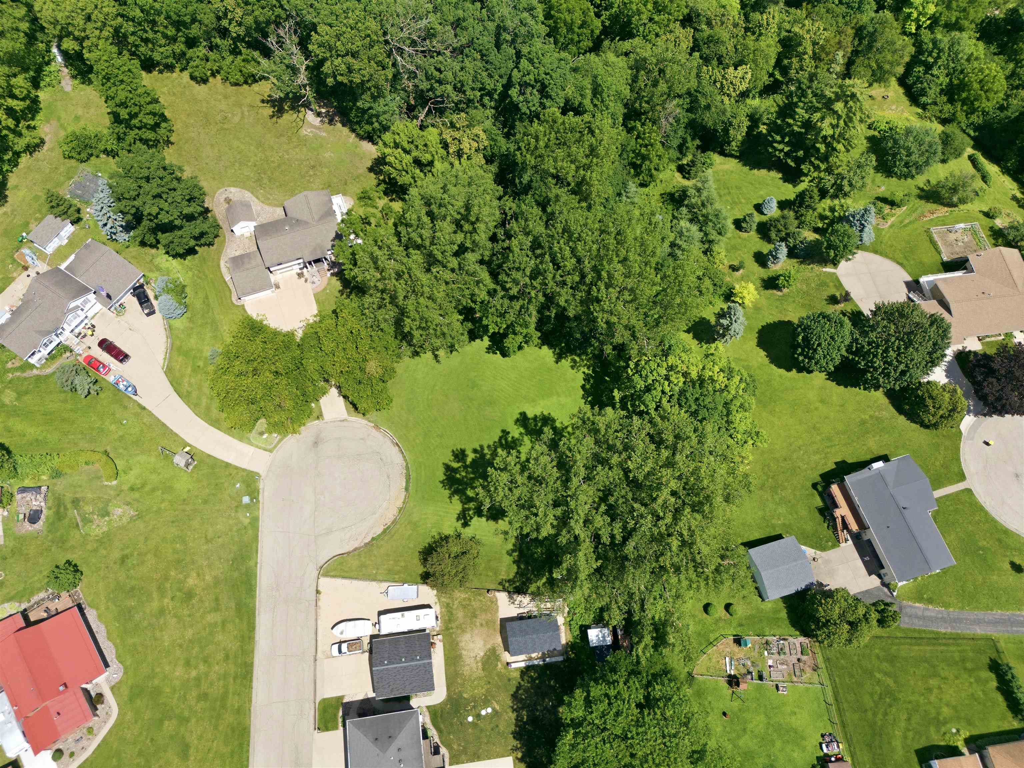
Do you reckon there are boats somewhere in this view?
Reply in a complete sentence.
Yes, a boat appears in the view.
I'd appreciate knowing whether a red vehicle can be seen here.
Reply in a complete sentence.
Yes, a red vehicle appears in the view.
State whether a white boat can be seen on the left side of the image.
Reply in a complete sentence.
Yes, the scene does show a white boat on the left side of the image.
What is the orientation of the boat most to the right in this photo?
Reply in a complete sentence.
What the image shows is the boat most to the right lying from side to side.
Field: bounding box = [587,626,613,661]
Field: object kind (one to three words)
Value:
shed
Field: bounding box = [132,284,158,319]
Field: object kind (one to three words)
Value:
truck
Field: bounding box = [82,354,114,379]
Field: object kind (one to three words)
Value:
car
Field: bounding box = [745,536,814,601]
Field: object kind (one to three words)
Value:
building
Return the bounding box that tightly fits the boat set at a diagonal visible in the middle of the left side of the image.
[111,376,136,395]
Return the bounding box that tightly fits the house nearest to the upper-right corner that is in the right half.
[908,248,1024,350]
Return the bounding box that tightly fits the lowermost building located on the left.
[346,708,443,768]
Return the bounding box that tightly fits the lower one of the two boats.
[331,617,373,637]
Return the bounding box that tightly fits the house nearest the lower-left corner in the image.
[0,591,113,755]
